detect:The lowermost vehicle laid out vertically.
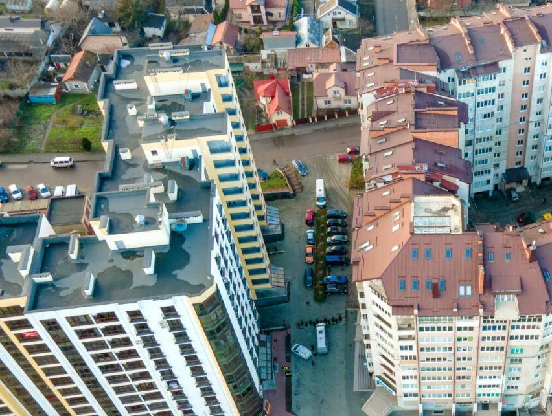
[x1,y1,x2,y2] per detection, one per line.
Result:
[312,324,329,353]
